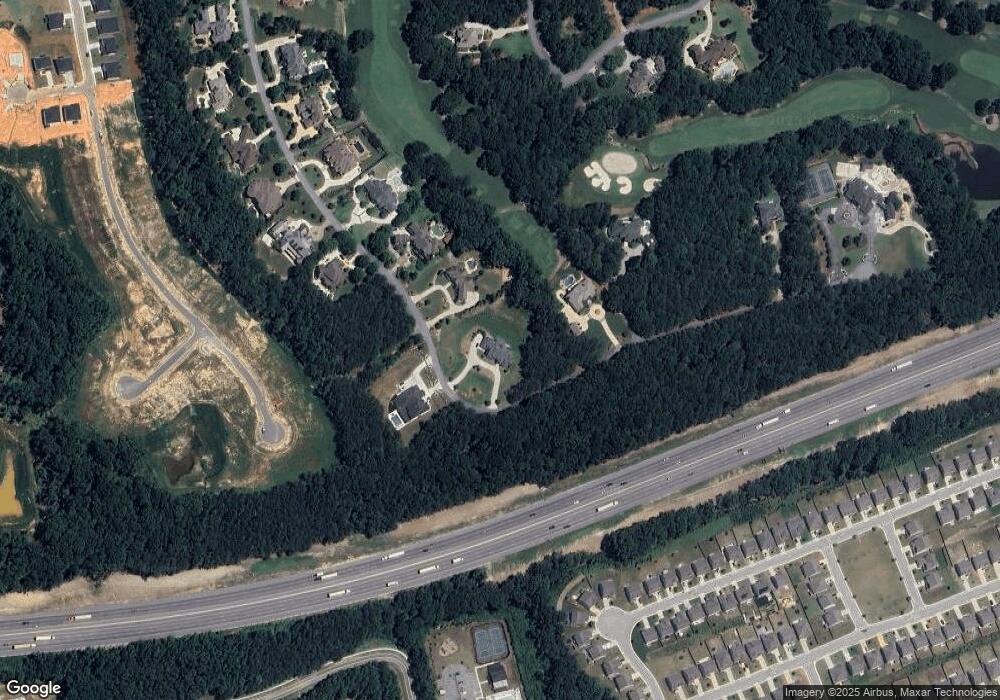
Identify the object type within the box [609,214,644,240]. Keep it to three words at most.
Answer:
house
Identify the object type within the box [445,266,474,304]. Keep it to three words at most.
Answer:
house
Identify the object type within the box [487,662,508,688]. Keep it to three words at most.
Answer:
building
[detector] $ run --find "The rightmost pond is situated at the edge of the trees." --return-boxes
[951,145,1000,200]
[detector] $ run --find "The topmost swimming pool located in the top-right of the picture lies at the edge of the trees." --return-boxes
[720,62,734,78]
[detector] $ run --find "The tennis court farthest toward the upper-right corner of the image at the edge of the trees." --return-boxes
[806,163,838,201]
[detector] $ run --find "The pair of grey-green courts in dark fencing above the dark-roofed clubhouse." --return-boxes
[473,622,510,663]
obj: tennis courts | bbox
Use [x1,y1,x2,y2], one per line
[806,163,838,201]
[473,622,510,663]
